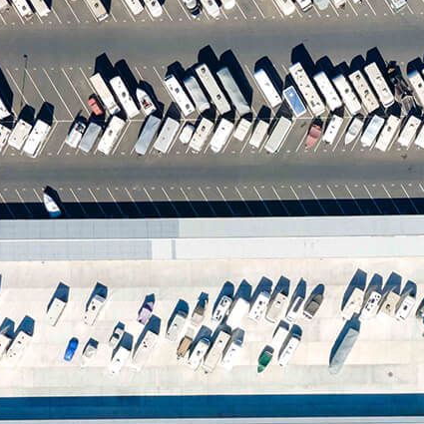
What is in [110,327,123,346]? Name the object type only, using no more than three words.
boat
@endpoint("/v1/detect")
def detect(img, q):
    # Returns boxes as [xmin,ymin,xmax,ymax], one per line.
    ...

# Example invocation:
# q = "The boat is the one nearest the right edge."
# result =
[347,116,363,144]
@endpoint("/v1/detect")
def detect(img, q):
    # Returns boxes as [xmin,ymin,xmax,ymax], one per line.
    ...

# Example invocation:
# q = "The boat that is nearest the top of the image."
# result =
[139,88,155,114]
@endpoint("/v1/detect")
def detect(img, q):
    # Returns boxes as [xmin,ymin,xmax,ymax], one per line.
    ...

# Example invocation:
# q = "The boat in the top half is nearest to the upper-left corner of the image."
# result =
[67,120,82,148]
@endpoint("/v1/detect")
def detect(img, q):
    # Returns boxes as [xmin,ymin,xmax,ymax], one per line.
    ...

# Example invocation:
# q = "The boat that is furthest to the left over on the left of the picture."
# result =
[44,196,59,217]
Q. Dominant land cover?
paved ground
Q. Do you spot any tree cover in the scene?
No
